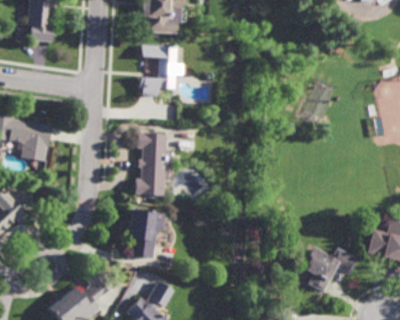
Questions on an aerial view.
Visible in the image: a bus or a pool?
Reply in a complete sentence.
This aerial view contains a pool.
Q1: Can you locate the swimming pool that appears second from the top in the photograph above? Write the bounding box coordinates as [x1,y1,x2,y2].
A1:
[3,155,30,172]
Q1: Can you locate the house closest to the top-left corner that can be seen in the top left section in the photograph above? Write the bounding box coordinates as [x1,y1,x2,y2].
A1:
[30,0,56,42]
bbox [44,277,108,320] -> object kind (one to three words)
house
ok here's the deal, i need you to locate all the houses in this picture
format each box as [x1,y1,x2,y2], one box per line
[132,278,176,320]
[368,218,400,261]
[144,0,190,34]
[30,0,56,42]
[142,43,186,96]
[127,210,168,260]
[0,196,26,238]
[134,134,170,196]
[0,112,53,164]
[44,277,108,320]
[307,244,358,296]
